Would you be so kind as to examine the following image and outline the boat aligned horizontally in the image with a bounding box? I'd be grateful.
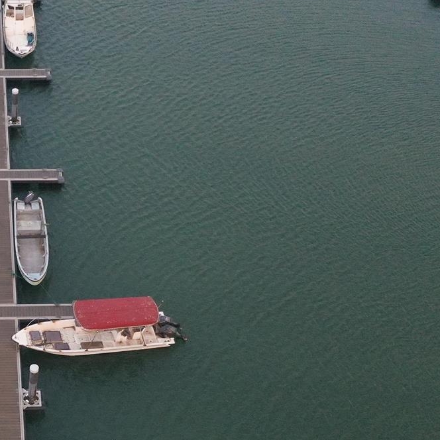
[11,291,193,355]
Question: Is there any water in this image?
Yes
